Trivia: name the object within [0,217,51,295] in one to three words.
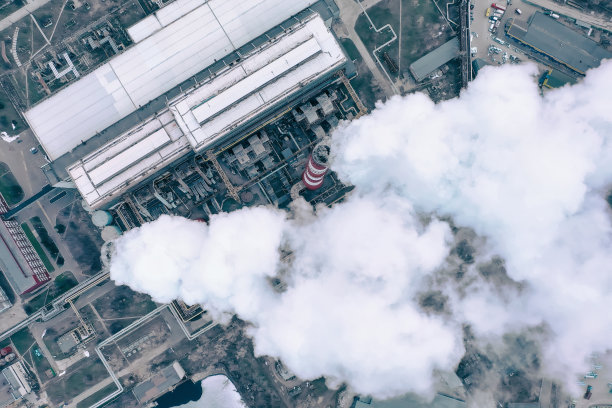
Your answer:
building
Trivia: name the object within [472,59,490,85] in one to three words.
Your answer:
shed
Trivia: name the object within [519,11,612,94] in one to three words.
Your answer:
building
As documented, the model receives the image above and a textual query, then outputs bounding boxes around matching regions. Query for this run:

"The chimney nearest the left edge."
[192,213,209,226]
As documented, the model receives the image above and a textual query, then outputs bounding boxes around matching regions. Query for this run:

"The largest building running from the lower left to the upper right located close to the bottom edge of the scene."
[133,360,186,405]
